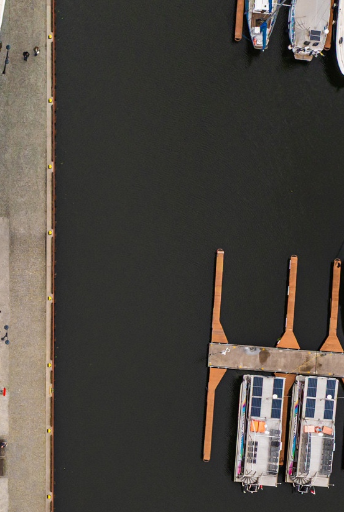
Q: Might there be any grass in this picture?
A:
No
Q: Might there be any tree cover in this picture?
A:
No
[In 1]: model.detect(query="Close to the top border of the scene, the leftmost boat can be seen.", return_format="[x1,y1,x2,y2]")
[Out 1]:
[244,0,290,51]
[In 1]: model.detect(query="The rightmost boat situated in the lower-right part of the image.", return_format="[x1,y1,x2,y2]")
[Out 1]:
[285,374,344,493]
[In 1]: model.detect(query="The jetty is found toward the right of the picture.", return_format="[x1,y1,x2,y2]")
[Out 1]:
[206,343,344,378]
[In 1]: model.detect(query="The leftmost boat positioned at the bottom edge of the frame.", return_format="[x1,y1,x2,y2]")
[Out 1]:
[232,373,290,492]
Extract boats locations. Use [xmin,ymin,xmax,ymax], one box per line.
[244,0,290,51]
[331,0,344,80]
[285,0,337,62]
[285,374,344,493]
[232,373,290,492]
